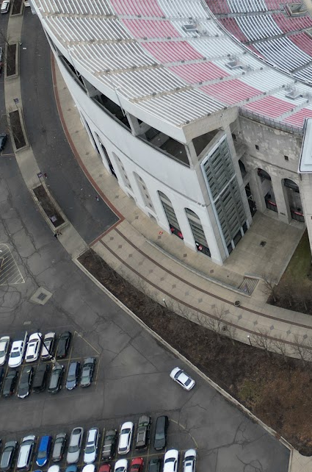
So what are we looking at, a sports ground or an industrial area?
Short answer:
sports ground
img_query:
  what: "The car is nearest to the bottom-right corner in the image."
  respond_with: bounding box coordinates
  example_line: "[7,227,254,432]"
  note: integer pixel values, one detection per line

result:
[179,448,198,472]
